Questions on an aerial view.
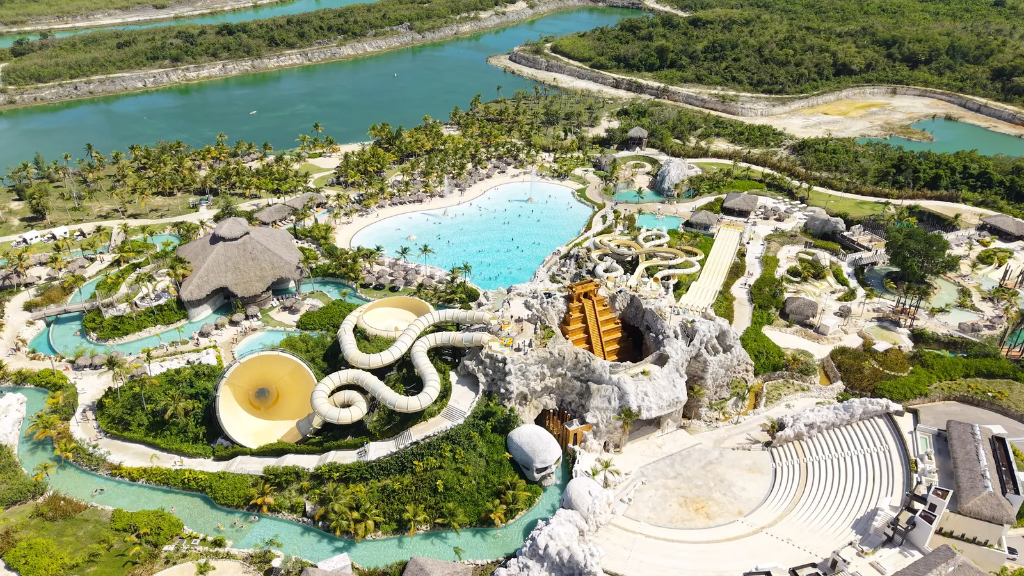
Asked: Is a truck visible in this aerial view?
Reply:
No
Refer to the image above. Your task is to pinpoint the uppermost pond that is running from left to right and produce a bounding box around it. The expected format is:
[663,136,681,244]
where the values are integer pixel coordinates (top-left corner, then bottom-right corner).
[856,120,1024,169]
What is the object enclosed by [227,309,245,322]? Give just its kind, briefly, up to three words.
umbrella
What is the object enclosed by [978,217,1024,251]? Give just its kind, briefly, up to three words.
building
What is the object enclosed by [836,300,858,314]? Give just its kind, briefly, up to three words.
umbrella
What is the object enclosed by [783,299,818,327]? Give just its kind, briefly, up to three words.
shed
